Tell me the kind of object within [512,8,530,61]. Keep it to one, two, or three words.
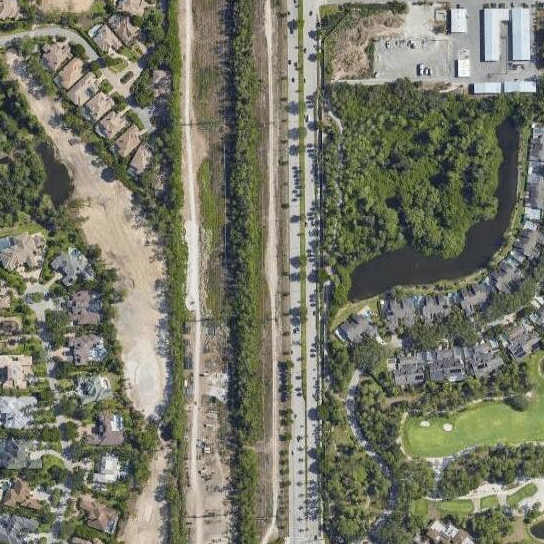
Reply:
shed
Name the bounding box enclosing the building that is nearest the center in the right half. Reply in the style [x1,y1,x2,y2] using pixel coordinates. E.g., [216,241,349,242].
[336,313,379,343]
